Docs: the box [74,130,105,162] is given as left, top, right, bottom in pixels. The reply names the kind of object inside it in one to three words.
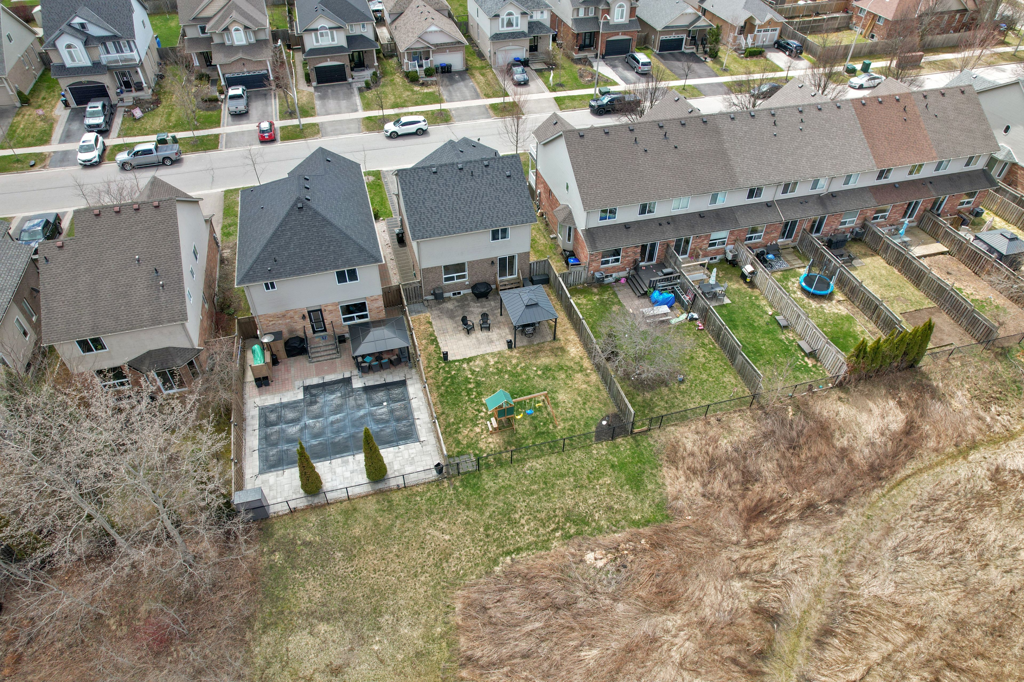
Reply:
car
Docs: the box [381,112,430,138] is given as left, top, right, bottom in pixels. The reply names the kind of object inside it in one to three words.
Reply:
car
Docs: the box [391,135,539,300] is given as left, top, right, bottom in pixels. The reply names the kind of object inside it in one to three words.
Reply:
house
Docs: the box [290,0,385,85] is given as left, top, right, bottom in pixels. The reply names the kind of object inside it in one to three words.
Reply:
house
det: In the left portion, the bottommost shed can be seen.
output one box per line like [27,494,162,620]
[232,485,268,523]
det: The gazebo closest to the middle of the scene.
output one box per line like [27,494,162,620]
[498,283,560,348]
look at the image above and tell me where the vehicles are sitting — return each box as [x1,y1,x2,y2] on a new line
[749,78,789,98]
[619,47,653,70]
[590,89,647,115]
[773,35,808,55]
[254,117,277,139]
[12,210,59,261]
[844,69,887,88]
[74,130,105,162]
[80,97,113,131]
[503,61,528,82]
[224,81,248,110]
[381,112,430,138]
[113,139,184,170]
